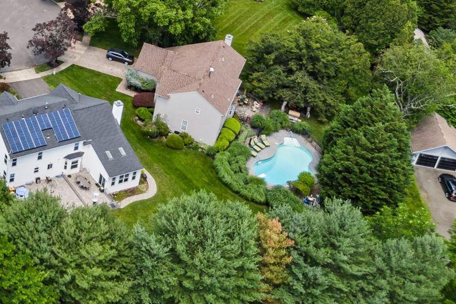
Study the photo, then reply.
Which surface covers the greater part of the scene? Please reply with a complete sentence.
The largest share of the image is taken up by trees.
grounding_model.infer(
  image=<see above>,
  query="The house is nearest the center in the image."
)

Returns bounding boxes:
[131,30,247,143]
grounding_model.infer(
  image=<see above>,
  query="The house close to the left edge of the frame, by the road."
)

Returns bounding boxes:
[0,82,144,189]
